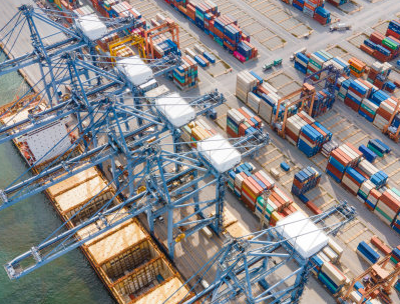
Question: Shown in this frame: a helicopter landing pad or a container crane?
container crane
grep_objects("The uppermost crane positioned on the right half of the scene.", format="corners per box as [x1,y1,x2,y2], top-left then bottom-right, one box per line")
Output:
[291,66,334,113]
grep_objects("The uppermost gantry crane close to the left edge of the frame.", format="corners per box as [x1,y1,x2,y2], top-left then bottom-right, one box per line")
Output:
[0,0,141,107]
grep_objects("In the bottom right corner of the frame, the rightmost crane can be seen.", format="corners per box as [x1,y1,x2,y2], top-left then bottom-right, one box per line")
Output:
[329,253,392,304]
